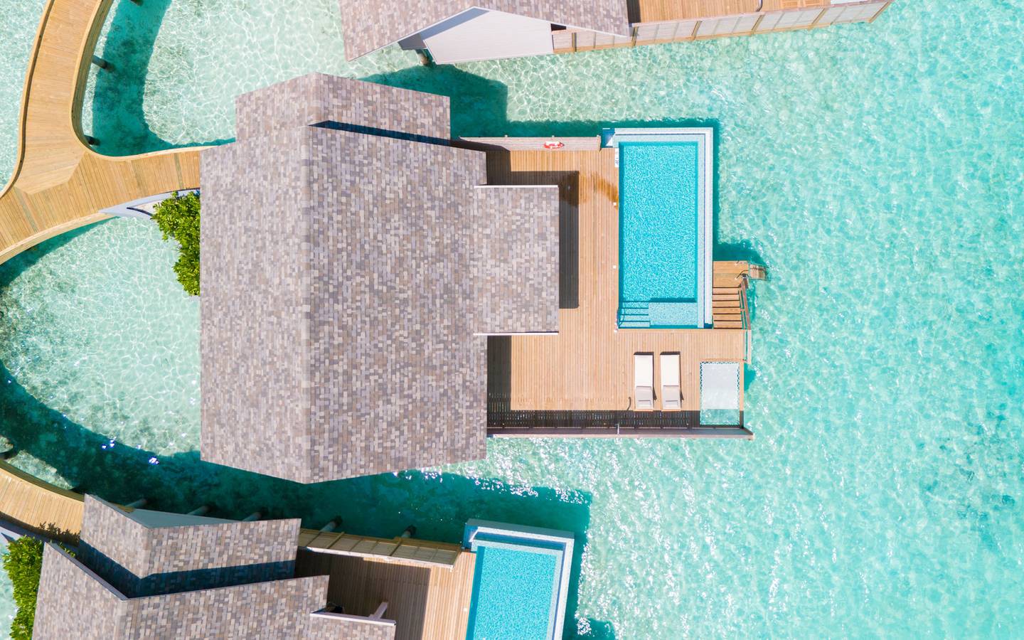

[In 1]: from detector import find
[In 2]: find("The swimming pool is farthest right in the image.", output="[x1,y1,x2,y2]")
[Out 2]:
[598,127,713,333]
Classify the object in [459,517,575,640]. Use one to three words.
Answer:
swimming pool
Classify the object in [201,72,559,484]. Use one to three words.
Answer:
house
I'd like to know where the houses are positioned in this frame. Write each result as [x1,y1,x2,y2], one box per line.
[201,72,559,484]
[32,493,396,640]
[339,0,626,65]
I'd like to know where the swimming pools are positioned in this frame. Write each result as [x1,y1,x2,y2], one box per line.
[459,517,575,640]
[598,127,713,333]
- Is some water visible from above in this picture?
Yes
